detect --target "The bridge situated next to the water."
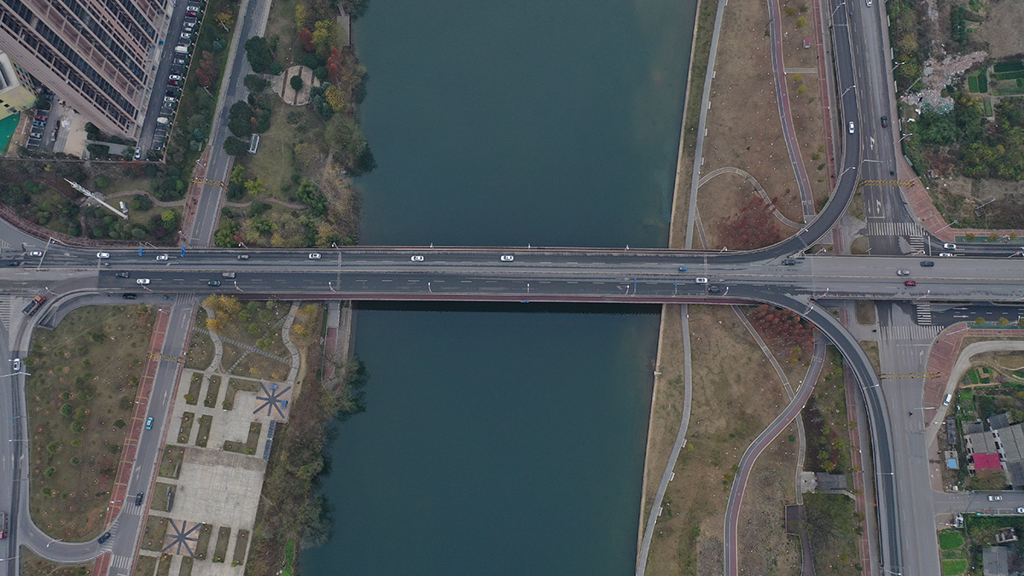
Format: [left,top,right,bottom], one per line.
[0,219,1024,308]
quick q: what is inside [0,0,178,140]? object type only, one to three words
building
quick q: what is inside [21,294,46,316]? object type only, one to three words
truck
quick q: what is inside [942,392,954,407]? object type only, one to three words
vehicle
